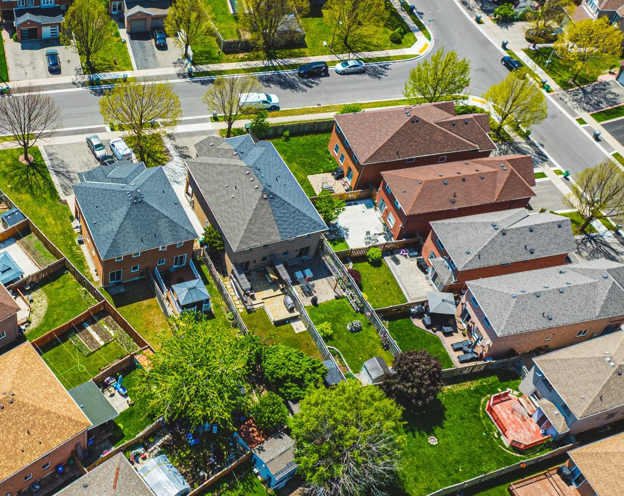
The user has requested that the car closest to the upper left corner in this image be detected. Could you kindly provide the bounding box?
[45,49,59,69]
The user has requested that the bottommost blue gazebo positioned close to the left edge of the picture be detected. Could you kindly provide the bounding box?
[0,250,26,288]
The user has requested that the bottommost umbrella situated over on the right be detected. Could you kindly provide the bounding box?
[427,292,459,314]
